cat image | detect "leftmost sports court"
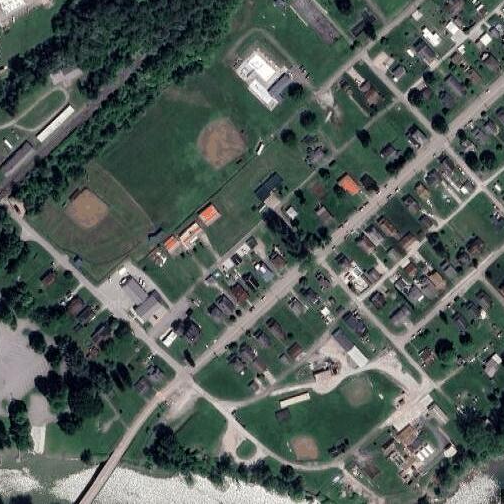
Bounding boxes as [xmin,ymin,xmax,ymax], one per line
[292,0,340,46]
